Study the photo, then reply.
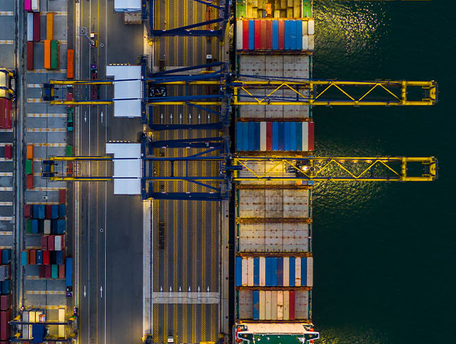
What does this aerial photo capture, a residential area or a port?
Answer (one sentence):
The area seen from above is a port.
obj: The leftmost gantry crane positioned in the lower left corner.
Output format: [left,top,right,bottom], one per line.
[7,306,80,344]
